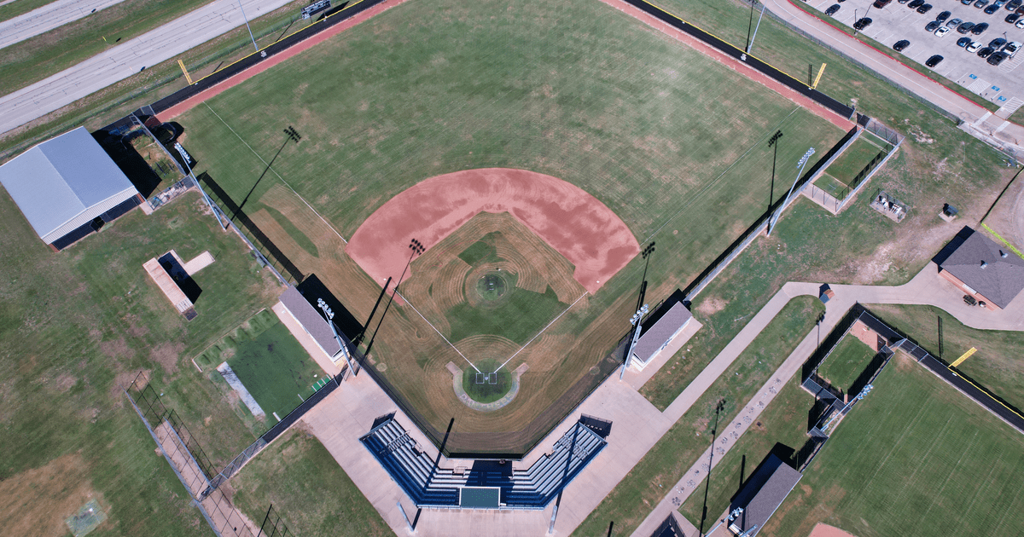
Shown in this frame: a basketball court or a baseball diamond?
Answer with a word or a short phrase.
baseball diamond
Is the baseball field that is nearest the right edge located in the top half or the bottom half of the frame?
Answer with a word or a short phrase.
bottom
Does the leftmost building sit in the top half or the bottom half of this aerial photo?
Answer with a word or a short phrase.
top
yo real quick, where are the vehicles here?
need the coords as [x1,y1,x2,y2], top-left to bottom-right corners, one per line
[916,3,933,14]
[892,40,910,52]
[955,36,973,49]
[825,4,841,16]
[974,0,991,10]
[907,0,925,10]
[946,17,963,29]
[989,35,1007,50]
[925,53,944,68]
[924,20,941,32]
[1003,13,1021,25]
[993,0,1011,9]
[976,46,994,59]
[874,0,891,9]
[987,51,1009,66]
[960,0,975,7]
[1014,5,1024,16]
[1013,18,1024,30]
[933,26,951,38]
[965,41,983,54]
[983,4,1000,15]
[971,23,989,35]
[935,11,952,23]
[896,0,910,5]
[854,16,872,30]
[1006,0,1023,11]
[957,20,975,35]
[1002,40,1022,56]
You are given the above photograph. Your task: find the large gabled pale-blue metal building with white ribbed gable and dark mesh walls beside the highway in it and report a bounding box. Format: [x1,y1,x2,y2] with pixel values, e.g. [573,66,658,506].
[0,122,145,252]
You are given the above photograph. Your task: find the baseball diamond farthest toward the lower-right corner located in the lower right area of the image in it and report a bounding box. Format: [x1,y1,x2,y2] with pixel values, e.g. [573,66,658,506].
[756,353,1024,537]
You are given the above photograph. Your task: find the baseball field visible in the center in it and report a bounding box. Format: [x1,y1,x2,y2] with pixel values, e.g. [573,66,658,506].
[143,0,852,456]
